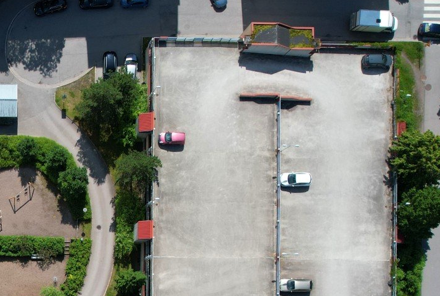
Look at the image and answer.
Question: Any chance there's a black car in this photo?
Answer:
Yes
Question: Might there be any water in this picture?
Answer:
No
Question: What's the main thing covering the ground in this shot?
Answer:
buildings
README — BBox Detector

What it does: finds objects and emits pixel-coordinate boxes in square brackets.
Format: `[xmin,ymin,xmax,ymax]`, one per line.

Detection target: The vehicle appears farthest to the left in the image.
[33,0,68,16]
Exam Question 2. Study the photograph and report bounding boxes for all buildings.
[128,23,405,296]
[0,85,17,121]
